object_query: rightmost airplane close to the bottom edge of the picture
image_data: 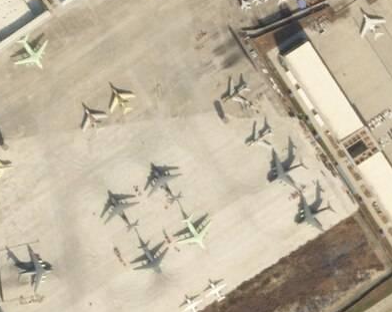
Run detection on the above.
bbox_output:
[205,282,226,299]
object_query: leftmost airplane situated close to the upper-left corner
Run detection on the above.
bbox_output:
[14,36,49,69]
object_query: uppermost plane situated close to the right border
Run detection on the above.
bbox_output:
[361,12,386,39]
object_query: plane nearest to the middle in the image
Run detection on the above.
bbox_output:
[147,168,182,201]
